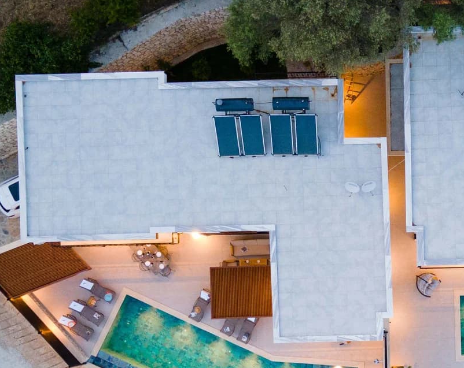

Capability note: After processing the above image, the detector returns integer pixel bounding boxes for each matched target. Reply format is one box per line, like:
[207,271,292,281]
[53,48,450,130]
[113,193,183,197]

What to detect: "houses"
[16,71,394,343]
[402,25,464,268]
